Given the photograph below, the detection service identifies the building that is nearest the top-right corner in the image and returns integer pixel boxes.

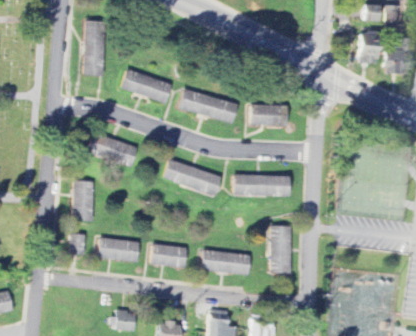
[383,4,400,24]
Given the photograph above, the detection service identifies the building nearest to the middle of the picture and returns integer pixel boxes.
[164,160,222,196]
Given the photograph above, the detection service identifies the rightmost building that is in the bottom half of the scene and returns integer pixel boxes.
[268,224,293,274]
